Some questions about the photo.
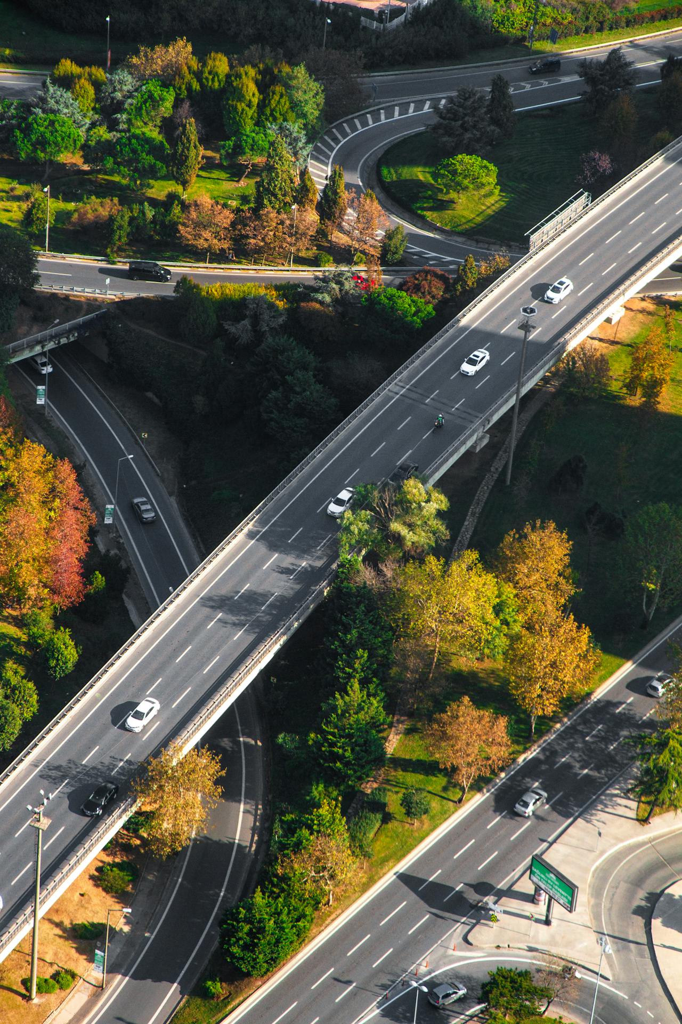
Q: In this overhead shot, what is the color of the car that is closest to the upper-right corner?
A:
black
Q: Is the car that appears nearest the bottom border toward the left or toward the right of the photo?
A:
right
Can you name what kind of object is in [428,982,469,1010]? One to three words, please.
car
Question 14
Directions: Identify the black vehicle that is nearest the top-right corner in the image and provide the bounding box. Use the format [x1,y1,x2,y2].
[528,53,563,75]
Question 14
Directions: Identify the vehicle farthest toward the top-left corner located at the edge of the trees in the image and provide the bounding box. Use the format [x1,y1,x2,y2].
[128,260,171,284]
